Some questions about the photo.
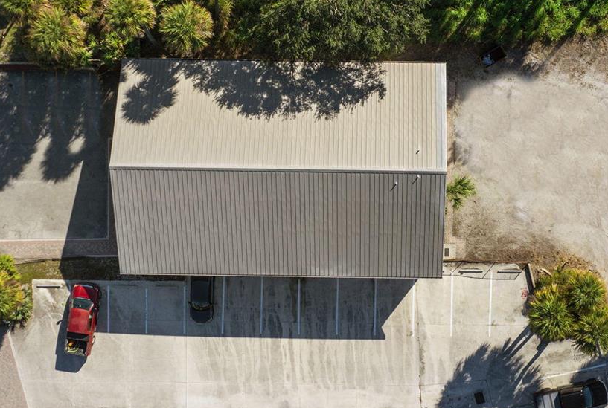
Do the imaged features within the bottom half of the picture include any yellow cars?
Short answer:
No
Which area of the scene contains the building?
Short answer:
center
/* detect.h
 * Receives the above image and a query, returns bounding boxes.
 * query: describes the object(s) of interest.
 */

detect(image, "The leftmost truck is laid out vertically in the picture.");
[63,282,101,358]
